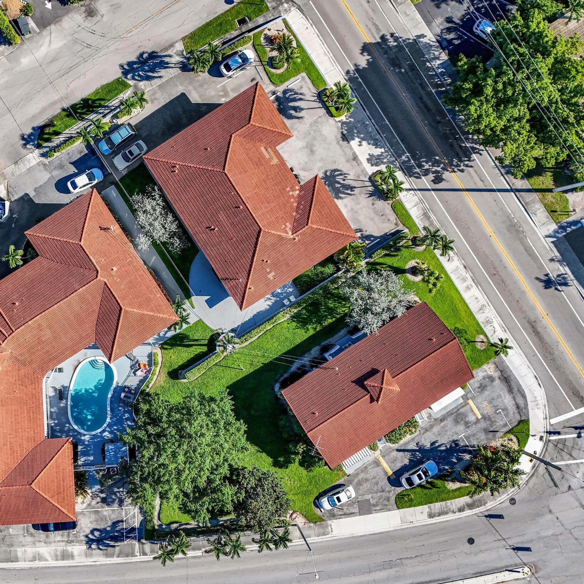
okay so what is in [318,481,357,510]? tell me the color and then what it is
white car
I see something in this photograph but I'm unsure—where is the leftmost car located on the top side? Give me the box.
[65,166,105,192]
